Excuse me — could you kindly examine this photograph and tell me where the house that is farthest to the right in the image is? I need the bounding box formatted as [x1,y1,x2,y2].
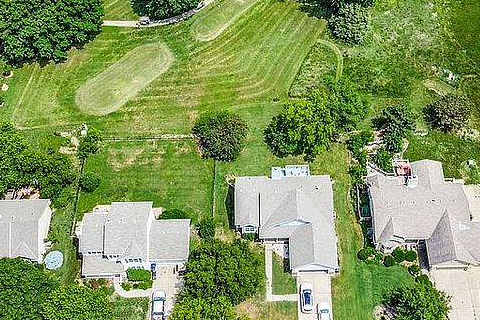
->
[365,156,480,270]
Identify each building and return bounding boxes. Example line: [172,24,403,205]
[234,162,339,275]
[365,156,480,270]
[77,200,190,279]
[0,199,53,270]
